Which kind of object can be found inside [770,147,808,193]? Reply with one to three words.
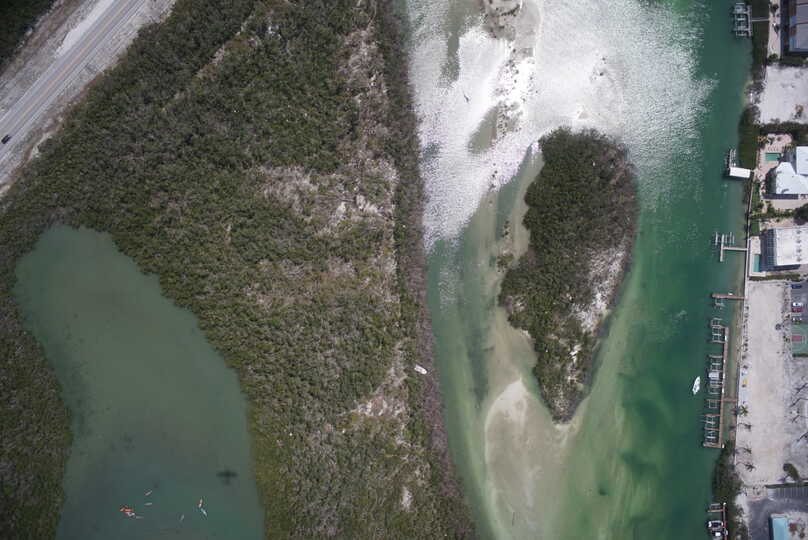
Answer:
house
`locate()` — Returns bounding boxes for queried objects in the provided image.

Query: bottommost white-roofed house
[776,227,808,264]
